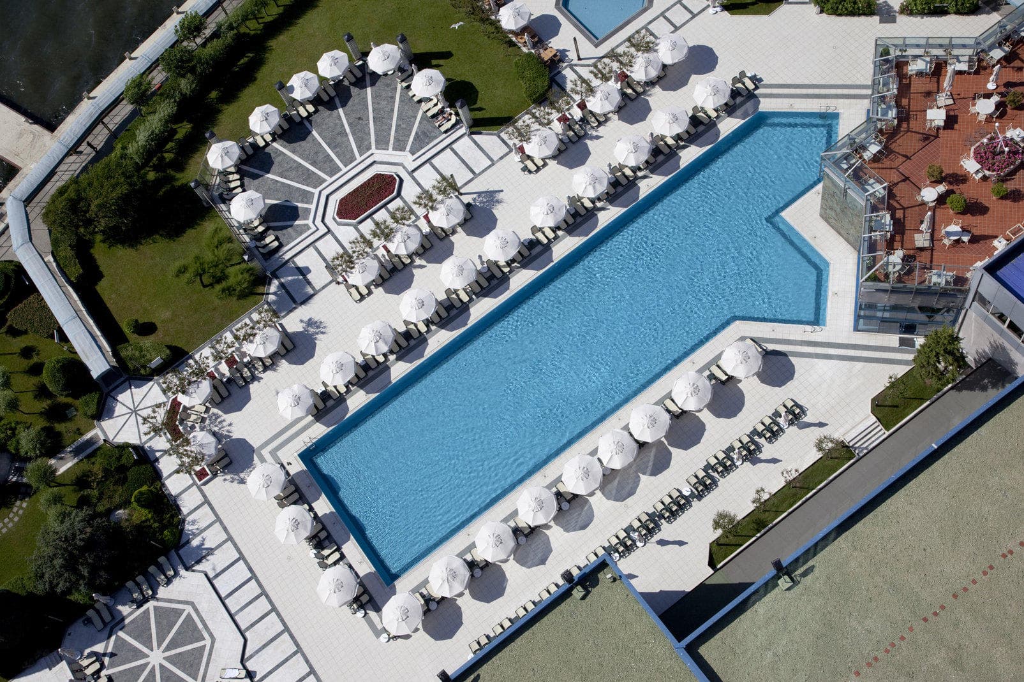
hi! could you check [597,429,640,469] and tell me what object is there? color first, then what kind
white umbrella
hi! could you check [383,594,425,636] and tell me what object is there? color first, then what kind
white umbrella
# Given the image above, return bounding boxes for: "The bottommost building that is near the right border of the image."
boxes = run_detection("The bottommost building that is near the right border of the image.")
[679,368,1024,682]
